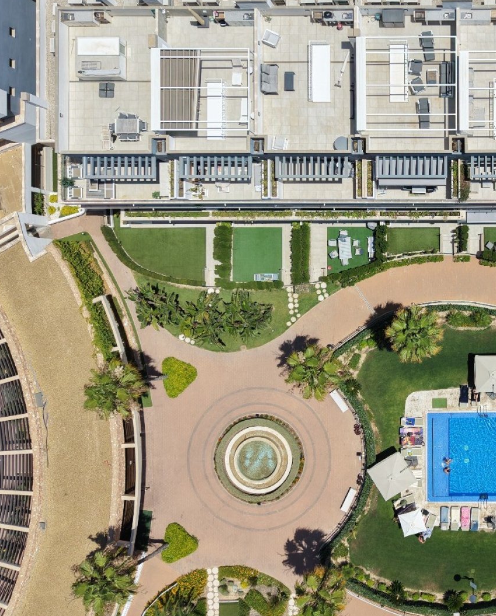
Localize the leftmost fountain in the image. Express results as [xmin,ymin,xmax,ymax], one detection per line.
[226,422,297,493]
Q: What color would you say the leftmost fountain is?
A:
white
